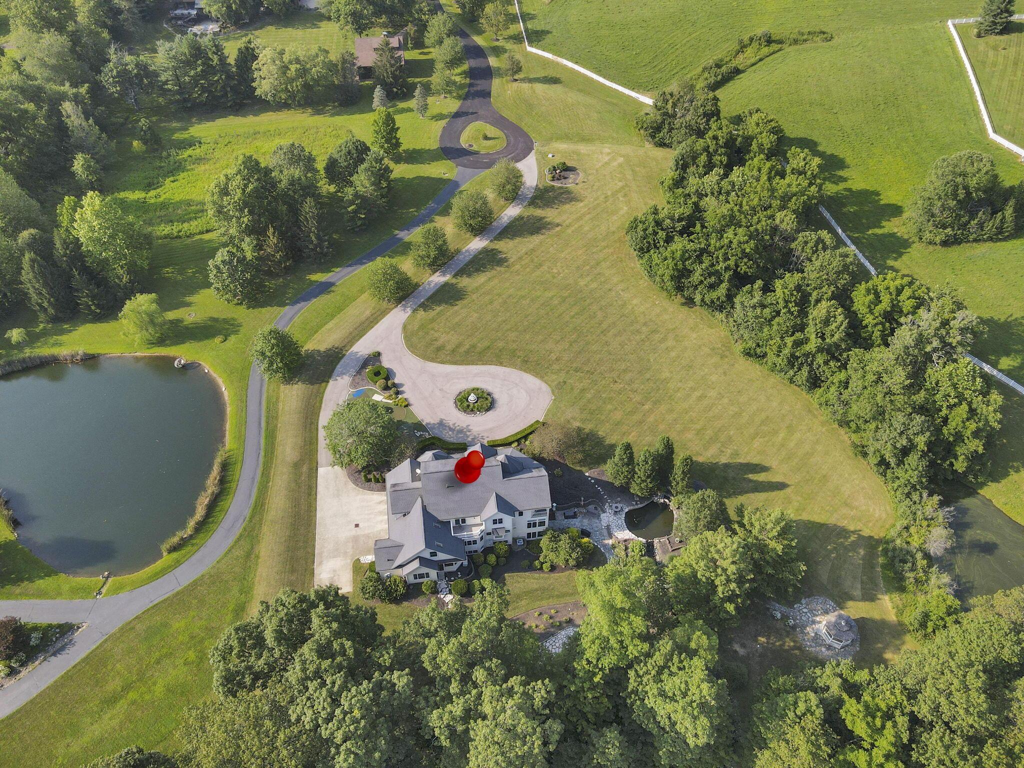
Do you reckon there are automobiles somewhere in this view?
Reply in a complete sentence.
No, I can't see a single automobile in this photo.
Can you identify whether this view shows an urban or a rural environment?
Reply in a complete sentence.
The area is rural.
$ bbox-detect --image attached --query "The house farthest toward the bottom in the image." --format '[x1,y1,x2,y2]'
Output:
[374,442,552,584]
